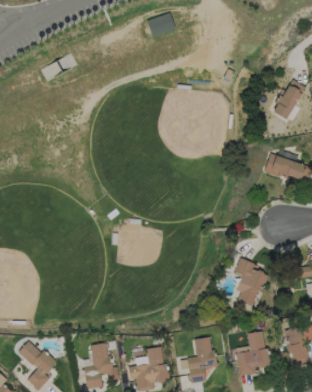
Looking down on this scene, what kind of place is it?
sports ground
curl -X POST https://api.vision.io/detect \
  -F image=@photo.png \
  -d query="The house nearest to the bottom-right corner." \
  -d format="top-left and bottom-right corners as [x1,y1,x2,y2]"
[286,328,308,364]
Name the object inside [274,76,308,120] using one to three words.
house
